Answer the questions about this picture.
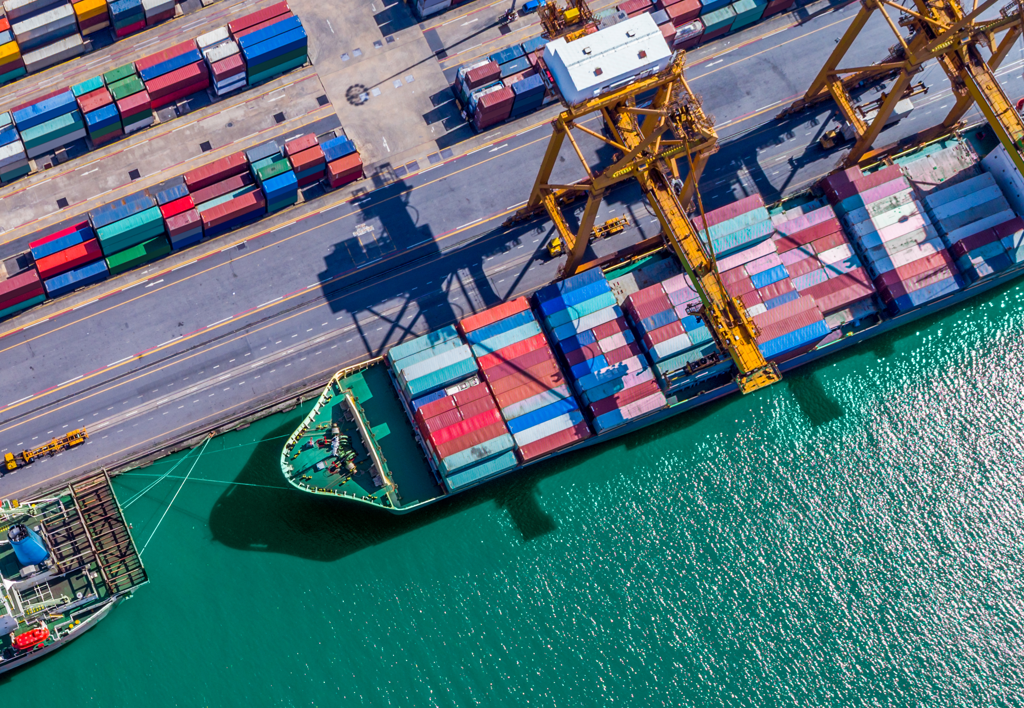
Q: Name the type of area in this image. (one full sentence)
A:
The picture captures a port.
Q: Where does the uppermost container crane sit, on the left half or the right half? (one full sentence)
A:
The uppermost container crane is on the right side of the image.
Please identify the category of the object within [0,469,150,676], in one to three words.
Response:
ship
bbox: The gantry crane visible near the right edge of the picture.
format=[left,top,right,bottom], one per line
[784,0,1024,184]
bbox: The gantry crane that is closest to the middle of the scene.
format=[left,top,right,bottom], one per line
[508,0,778,397]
